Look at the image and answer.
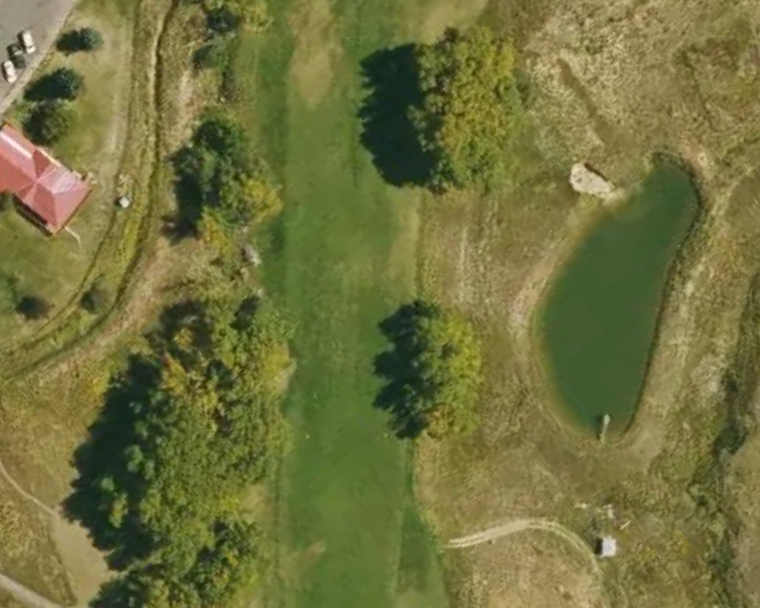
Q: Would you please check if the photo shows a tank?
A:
No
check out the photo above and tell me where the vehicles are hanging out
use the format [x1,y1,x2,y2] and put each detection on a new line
[9,41,24,67]
[20,29,34,54]
[1,60,15,83]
